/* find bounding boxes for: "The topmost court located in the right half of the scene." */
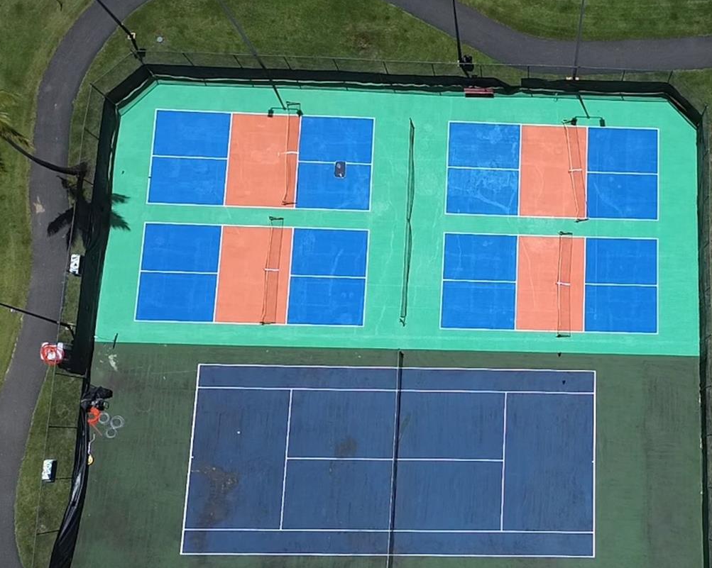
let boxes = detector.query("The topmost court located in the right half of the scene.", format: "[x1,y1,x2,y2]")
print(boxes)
[446,121,659,221]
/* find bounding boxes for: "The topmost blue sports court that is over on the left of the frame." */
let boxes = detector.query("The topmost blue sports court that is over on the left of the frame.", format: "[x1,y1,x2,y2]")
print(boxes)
[148,109,375,211]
